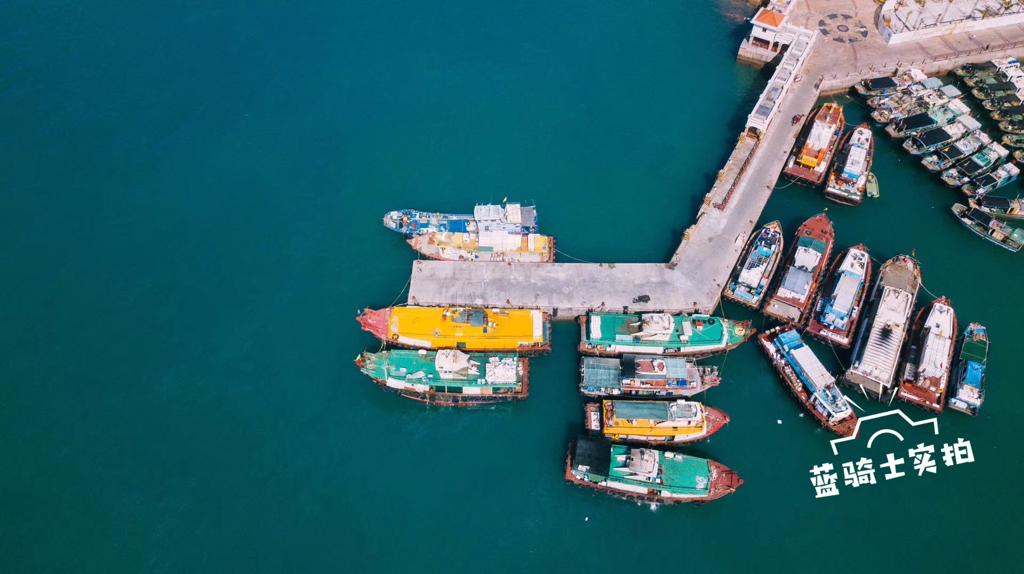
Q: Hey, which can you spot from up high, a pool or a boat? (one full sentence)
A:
I can see a boat in this picture.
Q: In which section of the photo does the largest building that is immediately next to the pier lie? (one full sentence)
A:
The largest building that is immediately next to the pier appears toward the top right of the photo.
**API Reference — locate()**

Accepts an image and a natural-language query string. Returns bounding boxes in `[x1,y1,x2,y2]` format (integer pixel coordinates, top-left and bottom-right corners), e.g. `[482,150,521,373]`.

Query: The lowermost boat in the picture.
[561,436,746,509]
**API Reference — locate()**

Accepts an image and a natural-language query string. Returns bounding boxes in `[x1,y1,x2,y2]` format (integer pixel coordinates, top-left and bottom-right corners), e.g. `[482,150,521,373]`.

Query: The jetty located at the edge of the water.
[409,67,824,325]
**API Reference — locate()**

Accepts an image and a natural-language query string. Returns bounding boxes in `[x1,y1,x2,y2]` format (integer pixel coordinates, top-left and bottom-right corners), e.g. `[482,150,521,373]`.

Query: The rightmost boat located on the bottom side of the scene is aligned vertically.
[947,320,995,419]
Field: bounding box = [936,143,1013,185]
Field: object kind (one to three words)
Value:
boat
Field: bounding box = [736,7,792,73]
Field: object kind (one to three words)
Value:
building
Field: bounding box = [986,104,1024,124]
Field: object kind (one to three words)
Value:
boat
